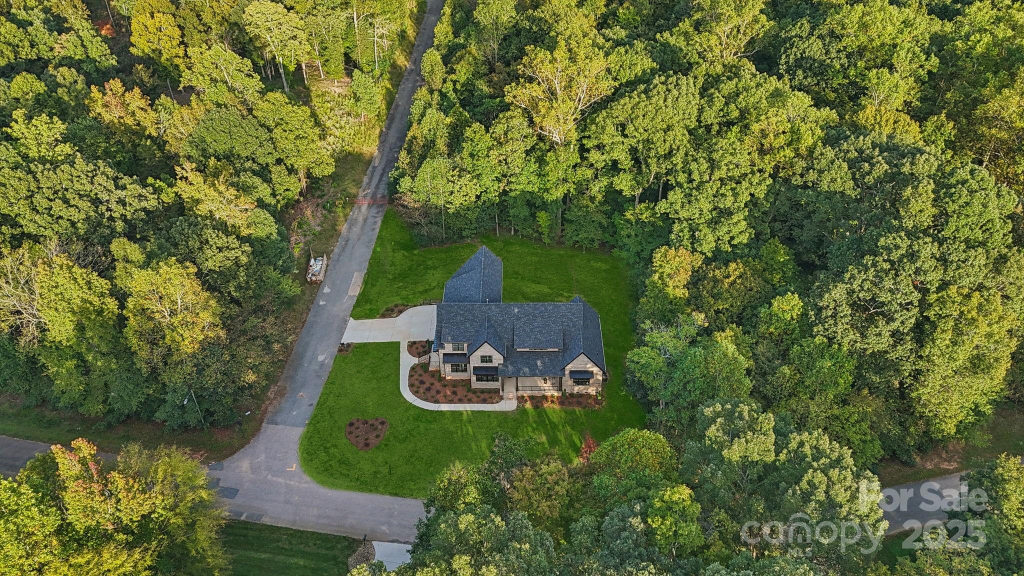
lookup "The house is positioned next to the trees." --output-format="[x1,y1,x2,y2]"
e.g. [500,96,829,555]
[418,246,607,402]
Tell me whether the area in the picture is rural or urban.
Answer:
rural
